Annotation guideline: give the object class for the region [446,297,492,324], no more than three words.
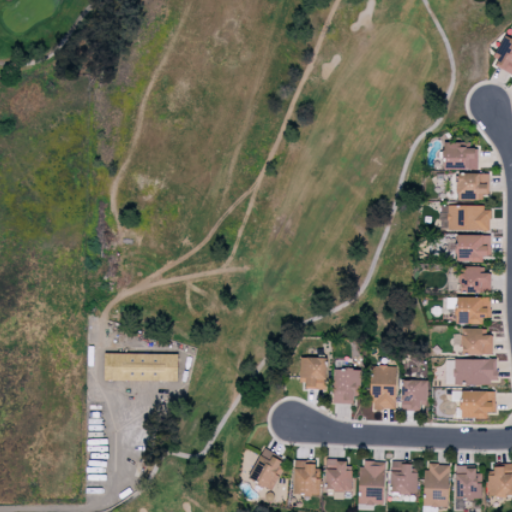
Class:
house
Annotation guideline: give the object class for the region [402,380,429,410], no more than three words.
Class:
house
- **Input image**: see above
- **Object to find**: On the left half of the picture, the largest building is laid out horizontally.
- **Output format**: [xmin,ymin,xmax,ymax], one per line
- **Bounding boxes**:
[104,354,178,382]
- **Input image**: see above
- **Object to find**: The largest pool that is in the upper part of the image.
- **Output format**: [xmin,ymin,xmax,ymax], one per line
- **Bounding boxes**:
[428,140,442,167]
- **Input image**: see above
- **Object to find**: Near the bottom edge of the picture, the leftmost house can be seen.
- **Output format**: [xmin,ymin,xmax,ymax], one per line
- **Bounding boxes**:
[249,448,284,492]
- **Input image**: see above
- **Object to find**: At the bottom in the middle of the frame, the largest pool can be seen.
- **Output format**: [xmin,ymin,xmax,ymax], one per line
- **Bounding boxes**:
[241,483,259,501]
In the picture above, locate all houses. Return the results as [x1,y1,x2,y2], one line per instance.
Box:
[494,36,512,74]
[402,380,429,410]
[453,391,498,419]
[391,461,419,502]
[456,465,483,510]
[300,354,328,392]
[446,297,492,324]
[446,358,500,386]
[325,459,353,500]
[372,366,398,410]
[441,206,492,232]
[444,142,479,170]
[358,460,386,511]
[456,234,492,262]
[462,329,494,354]
[333,368,362,404]
[460,266,492,294]
[458,172,490,200]
[423,464,451,512]
[488,464,512,497]
[294,460,322,497]
[249,448,284,492]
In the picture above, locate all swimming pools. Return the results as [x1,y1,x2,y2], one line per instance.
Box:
[428,140,442,167]
[241,483,259,501]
